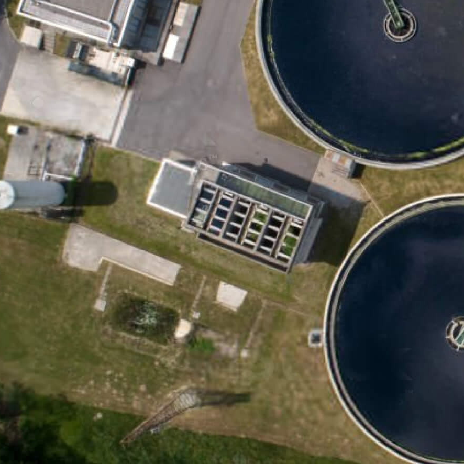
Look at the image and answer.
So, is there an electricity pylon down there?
Yes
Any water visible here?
Yes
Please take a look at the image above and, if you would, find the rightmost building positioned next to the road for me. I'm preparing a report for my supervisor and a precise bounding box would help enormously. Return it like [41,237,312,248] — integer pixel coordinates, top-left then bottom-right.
[183,160,329,273]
